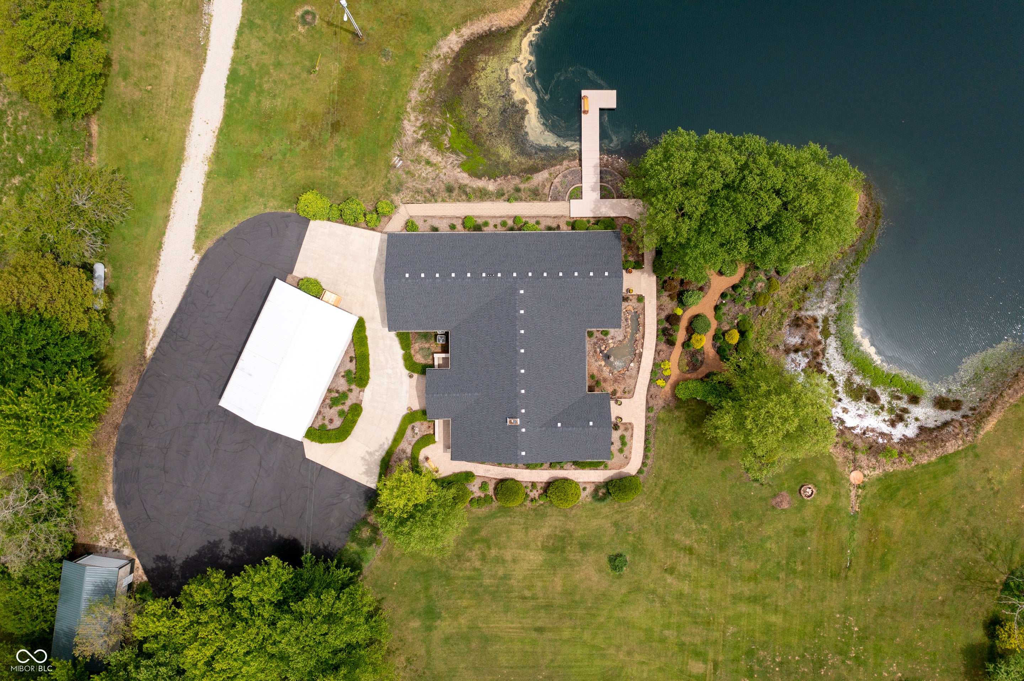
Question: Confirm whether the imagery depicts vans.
No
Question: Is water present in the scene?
Yes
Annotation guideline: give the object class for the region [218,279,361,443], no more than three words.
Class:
building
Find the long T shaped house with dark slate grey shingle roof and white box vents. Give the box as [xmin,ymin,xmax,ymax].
[384,229,623,464]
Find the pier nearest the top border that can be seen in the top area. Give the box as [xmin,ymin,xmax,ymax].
[581,90,616,199]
